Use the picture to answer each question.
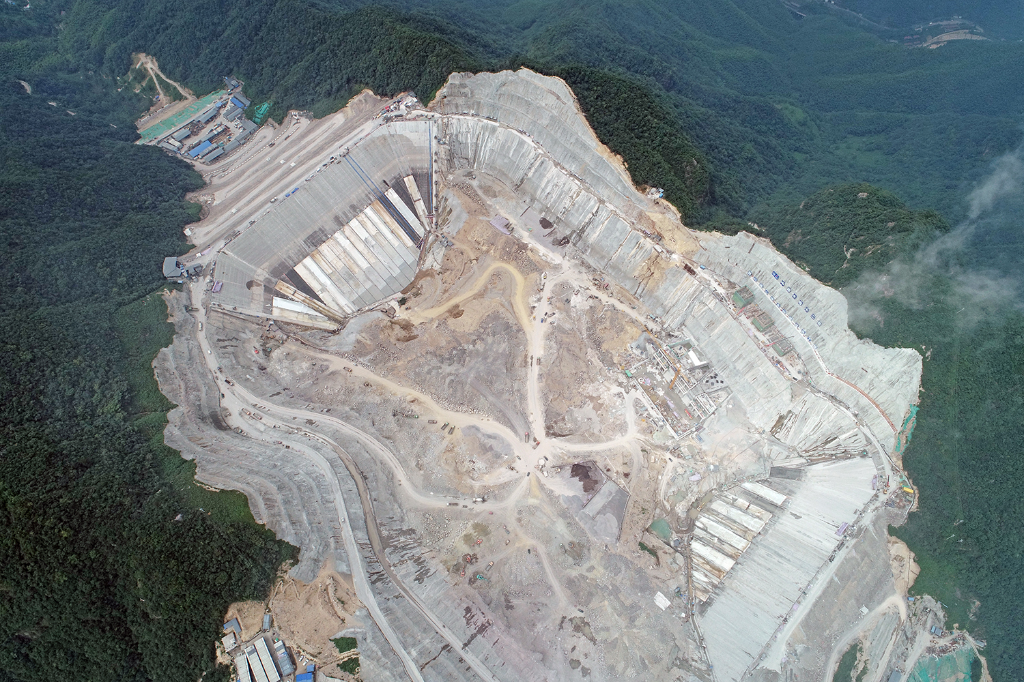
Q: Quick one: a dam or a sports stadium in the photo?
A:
dam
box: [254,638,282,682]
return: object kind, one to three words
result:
shed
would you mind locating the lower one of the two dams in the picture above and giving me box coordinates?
[689,455,918,682]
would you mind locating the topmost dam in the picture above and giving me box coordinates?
[180,88,438,332]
